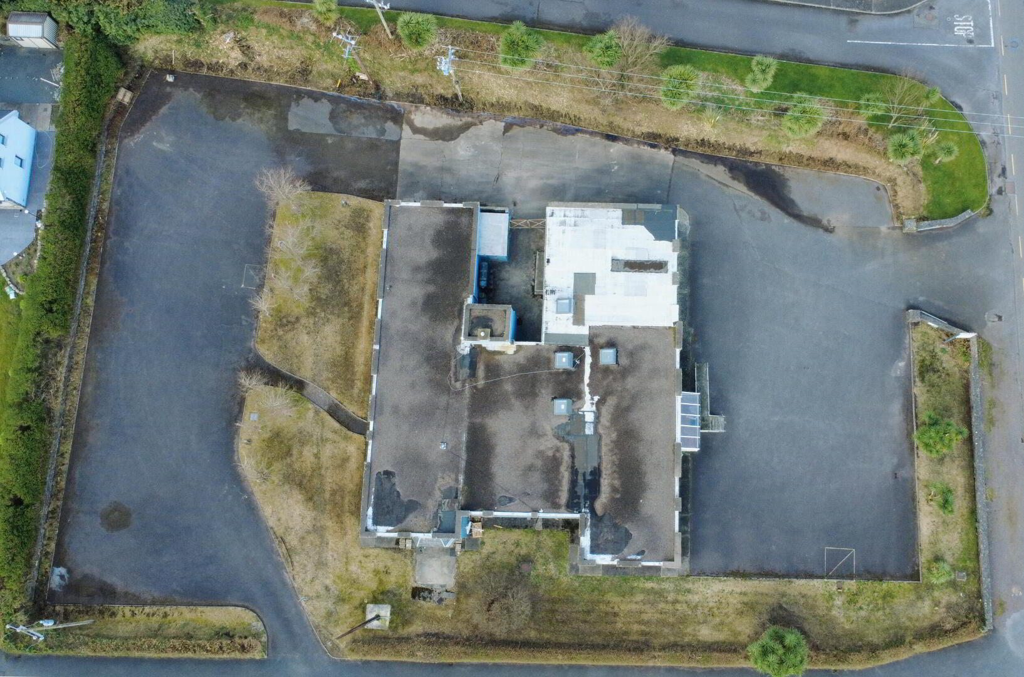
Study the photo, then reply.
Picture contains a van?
No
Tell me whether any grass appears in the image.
Yes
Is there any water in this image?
No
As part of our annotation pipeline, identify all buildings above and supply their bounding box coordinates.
[0,113,36,211]
[360,201,701,567]
[1,12,62,49]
